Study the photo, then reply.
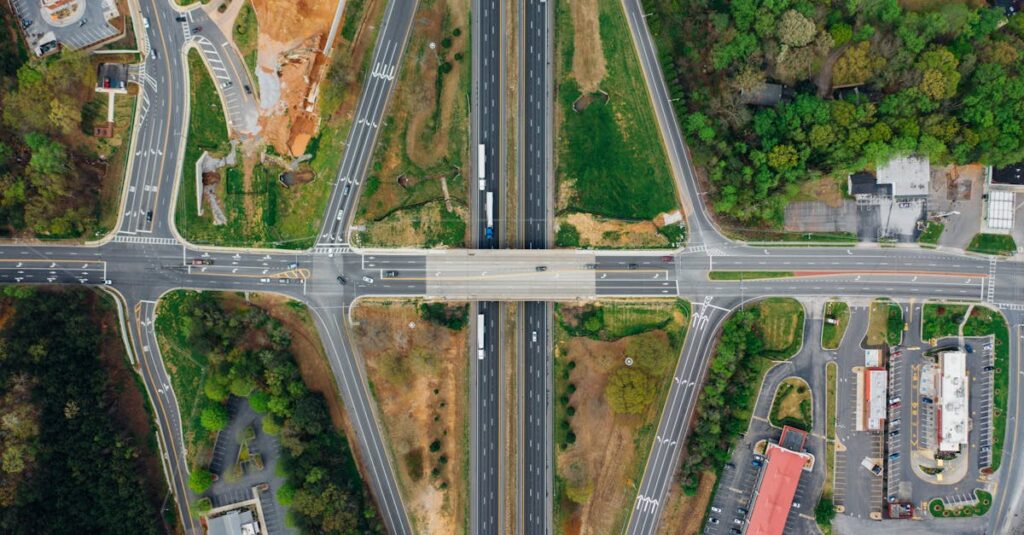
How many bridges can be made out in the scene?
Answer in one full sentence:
I count 1 bridge.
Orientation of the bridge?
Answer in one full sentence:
I'd say the bridge is aligned horizontally in the picture.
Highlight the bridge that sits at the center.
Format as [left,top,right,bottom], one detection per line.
[424,249,597,301]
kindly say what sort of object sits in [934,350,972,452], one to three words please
building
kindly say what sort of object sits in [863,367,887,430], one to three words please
building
